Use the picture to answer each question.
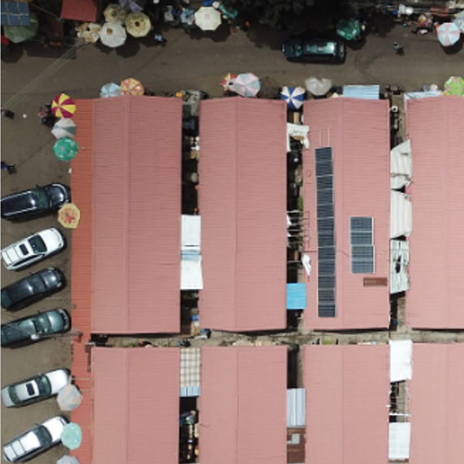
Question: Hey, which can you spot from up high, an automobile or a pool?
automobile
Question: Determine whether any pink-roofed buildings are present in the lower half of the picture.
Yes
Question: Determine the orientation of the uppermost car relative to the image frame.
from left to right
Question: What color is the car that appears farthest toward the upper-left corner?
black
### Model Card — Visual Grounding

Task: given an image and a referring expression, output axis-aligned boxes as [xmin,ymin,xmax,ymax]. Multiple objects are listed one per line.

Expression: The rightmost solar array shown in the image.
[350,216,374,274]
